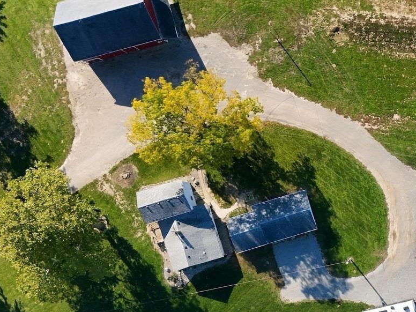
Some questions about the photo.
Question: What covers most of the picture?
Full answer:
The largest share of the image is taken up by grass.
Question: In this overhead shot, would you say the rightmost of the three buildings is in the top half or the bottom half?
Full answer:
The rightmost of the three buildings sits in the bottom half of the picture.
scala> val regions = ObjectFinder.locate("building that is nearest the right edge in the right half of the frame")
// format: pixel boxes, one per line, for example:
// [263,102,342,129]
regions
[228,190,317,253]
